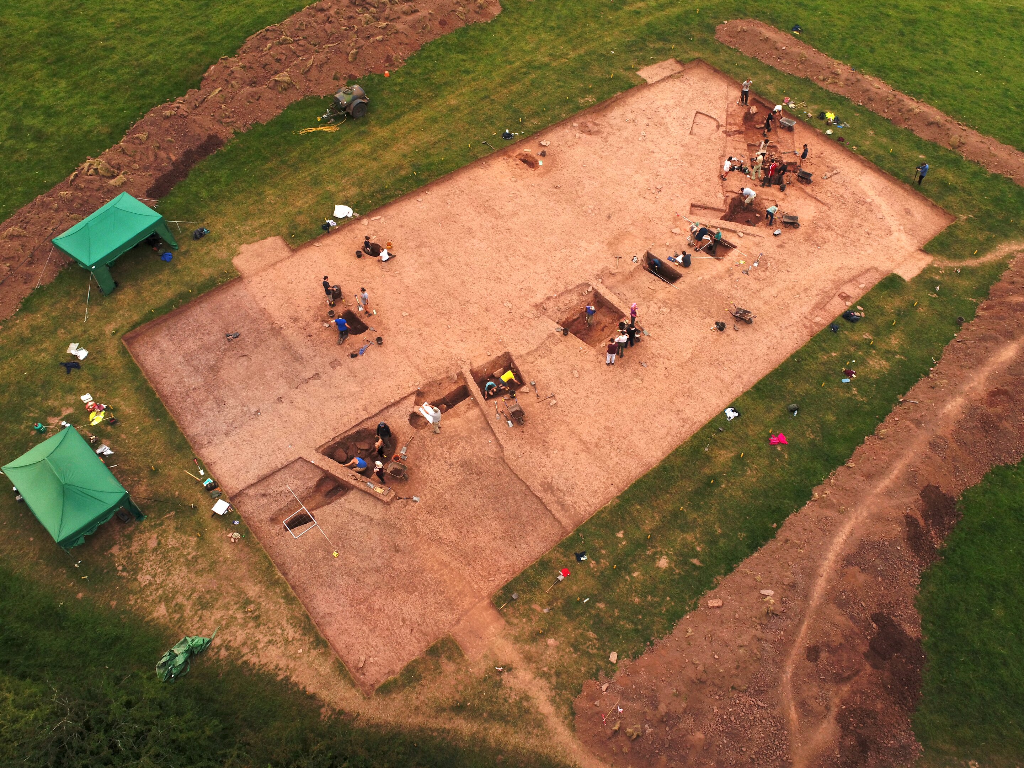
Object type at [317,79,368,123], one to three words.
trailer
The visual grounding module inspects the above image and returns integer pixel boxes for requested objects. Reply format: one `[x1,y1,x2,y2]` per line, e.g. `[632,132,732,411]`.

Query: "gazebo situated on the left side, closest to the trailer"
[19,193,209,322]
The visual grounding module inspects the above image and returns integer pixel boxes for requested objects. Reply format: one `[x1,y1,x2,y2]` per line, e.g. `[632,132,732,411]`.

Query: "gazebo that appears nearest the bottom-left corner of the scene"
[1,425,193,582]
